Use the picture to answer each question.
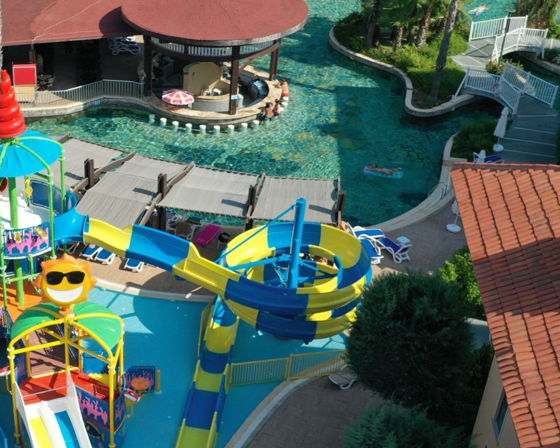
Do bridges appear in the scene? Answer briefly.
Yes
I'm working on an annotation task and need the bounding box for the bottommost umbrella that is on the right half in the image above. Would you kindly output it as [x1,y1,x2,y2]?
[446,191,461,231]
